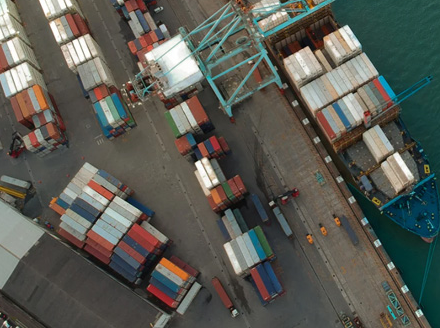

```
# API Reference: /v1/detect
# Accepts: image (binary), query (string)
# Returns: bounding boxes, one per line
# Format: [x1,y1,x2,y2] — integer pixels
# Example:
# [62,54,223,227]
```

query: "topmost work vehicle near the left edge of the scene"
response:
[9,132,27,158]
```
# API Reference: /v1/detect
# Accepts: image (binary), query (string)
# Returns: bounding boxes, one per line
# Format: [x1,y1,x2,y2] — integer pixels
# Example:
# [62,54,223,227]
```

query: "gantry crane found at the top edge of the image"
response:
[110,0,336,123]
